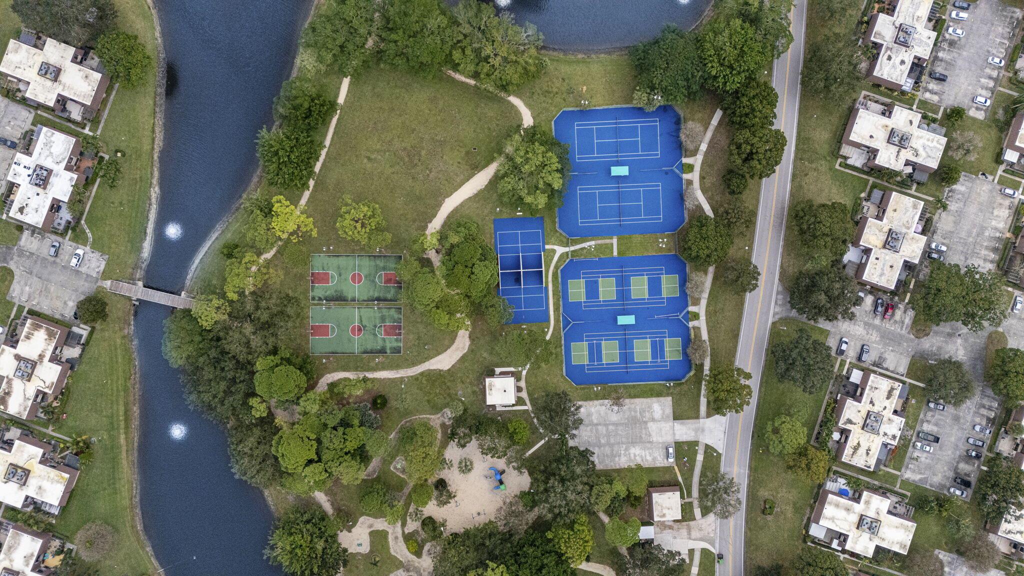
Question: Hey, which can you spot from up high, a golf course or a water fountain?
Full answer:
Looking from above, you can make out a water fountain.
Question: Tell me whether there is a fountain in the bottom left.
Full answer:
Yes, a fountain can be seen in the bottom left.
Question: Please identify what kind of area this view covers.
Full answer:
The picture captures a residential area.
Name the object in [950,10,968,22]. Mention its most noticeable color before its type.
white vehicle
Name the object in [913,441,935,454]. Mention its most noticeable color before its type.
white vehicle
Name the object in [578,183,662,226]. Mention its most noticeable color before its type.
blue tennis court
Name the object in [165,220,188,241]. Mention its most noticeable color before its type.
white fountain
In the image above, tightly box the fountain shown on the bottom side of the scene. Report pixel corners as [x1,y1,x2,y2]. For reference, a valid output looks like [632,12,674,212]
[169,419,191,440]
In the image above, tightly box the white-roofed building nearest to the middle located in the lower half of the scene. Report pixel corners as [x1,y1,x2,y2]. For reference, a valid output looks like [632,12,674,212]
[485,370,519,408]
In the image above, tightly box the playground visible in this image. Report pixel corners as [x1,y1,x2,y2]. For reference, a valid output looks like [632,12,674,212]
[404,438,532,535]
